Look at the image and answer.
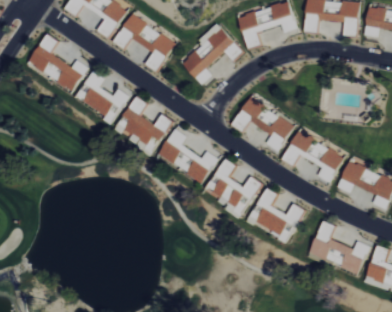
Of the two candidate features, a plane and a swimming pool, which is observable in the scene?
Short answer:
swimming pool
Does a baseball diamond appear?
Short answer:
No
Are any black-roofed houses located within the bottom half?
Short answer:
No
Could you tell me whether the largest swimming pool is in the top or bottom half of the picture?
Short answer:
top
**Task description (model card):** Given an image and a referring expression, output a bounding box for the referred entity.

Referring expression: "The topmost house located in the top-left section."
[64,0,130,37]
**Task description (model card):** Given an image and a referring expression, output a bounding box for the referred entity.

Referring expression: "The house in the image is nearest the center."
[158,128,218,186]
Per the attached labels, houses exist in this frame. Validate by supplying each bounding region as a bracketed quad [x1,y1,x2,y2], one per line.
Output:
[74,72,131,125]
[308,222,370,278]
[282,126,348,183]
[304,0,362,42]
[364,246,392,292]
[238,0,298,49]
[204,160,262,218]
[338,159,392,209]
[364,4,392,40]
[64,0,130,37]
[158,128,218,186]
[115,10,180,70]
[247,188,304,244]
[233,92,298,150]
[113,96,172,156]
[178,22,242,86]
[28,34,86,92]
